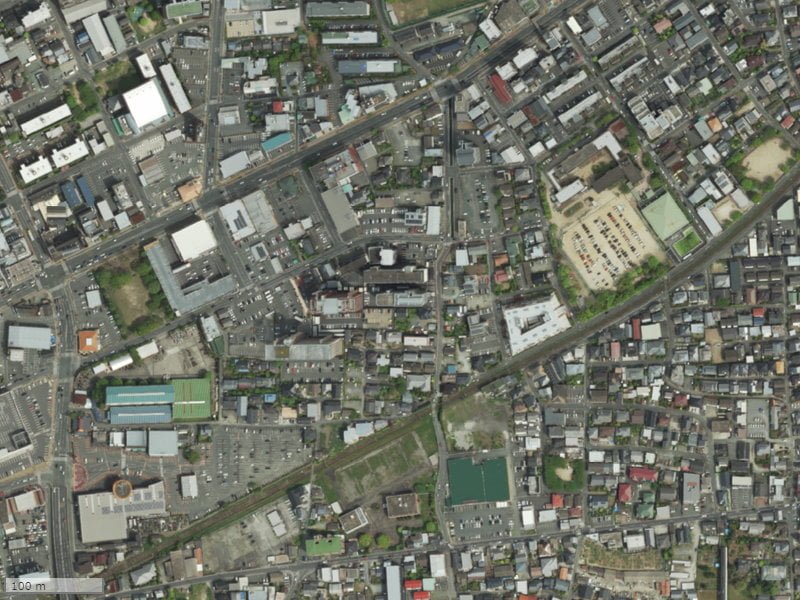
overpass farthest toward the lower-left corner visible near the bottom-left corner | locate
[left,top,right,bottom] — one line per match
[51,500,75,600]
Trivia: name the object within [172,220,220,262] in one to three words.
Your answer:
building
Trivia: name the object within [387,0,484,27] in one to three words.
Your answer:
sports field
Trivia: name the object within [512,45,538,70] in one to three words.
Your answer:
building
